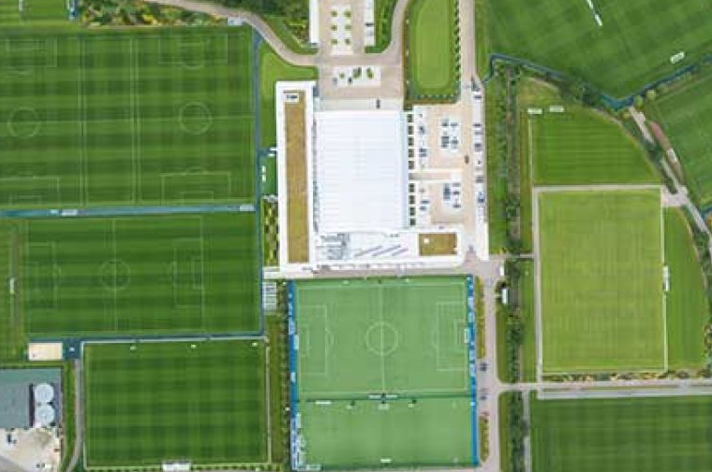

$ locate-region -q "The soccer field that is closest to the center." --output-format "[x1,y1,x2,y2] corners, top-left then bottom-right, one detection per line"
[295,277,471,398]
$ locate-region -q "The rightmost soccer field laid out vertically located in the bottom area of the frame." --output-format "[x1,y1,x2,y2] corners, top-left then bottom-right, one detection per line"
[666,209,705,370]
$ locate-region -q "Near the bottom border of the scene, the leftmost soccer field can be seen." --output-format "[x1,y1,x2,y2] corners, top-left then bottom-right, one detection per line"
[83,339,267,470]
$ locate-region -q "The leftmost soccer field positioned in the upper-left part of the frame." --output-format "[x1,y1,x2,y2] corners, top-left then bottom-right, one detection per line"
[0,27,109,209]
